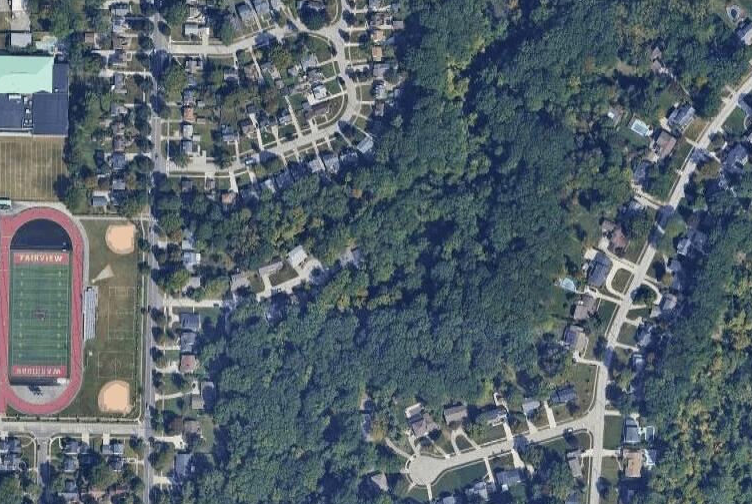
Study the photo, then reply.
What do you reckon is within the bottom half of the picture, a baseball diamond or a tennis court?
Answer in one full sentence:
The feature located within the bottom half of the picture is a baseball diamond.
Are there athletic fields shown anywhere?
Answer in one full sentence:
Yes, an athletic field is visible in the scene.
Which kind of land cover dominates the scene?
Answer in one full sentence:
The largest share of the image is taken up by trees.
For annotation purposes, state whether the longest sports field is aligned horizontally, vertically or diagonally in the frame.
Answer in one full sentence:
The longest sports field runs vertically in the image.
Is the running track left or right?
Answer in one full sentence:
It is on the left.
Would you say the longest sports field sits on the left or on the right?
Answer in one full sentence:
The longest sports field sits on the left side.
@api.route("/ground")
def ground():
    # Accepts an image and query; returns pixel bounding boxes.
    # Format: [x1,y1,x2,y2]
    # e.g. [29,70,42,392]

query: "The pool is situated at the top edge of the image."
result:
[728,5,740,21]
